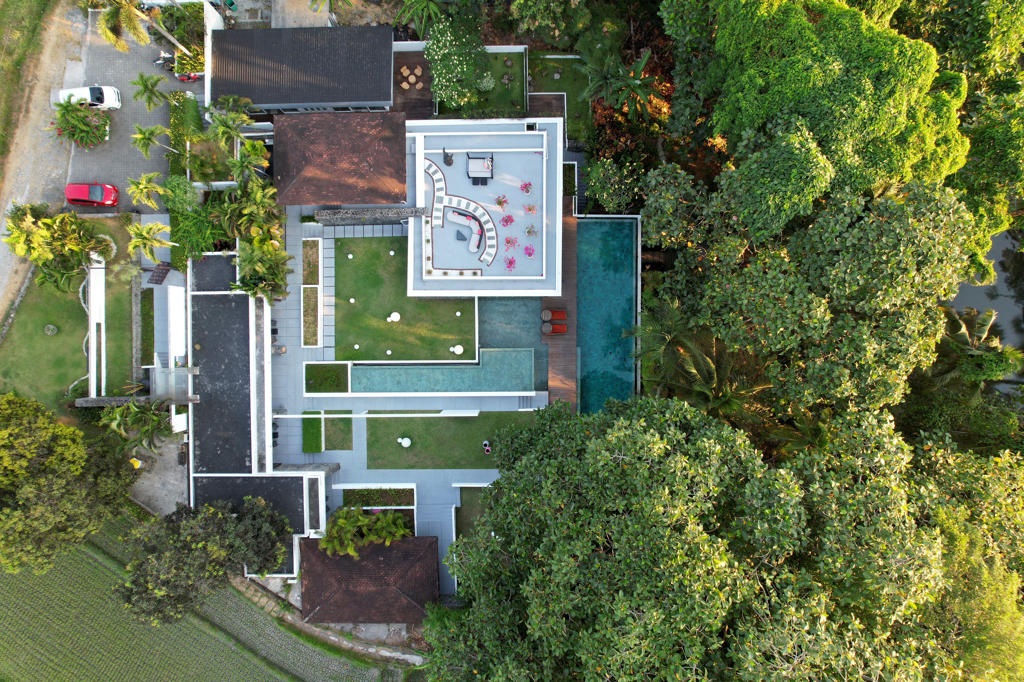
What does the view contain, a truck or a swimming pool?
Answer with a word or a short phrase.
swimming pool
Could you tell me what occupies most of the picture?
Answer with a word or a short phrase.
trees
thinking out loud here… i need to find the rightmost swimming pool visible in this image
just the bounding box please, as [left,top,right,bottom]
[578,209,633,411]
